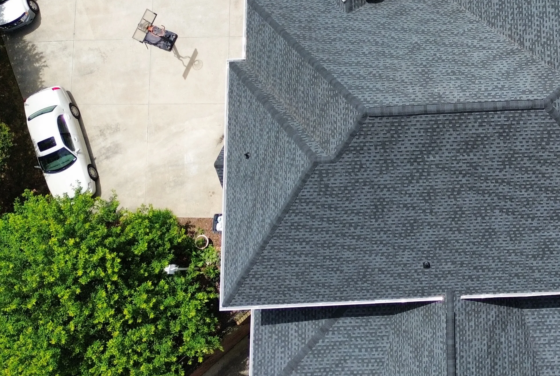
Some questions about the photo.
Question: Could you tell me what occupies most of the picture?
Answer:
buildings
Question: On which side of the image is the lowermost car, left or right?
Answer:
left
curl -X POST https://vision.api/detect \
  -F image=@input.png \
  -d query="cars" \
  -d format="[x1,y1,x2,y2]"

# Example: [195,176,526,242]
[0,0,38,36]
[21,88,98,207]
